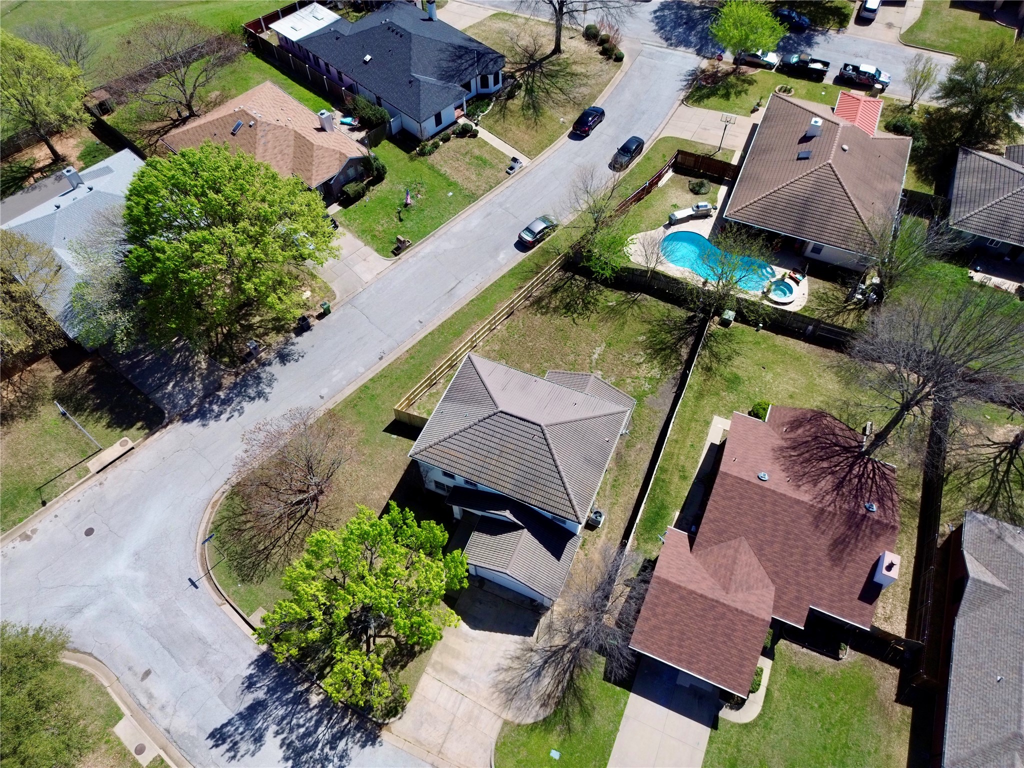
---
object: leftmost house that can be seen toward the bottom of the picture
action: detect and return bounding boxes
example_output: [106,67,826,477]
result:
[407,351,637,604]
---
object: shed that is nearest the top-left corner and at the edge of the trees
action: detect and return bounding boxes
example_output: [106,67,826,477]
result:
[78,91,117,125]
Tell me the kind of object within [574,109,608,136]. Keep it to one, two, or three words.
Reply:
car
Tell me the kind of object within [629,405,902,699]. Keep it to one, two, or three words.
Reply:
house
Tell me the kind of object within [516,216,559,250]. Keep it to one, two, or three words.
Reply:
car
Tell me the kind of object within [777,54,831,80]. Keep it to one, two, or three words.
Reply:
truck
